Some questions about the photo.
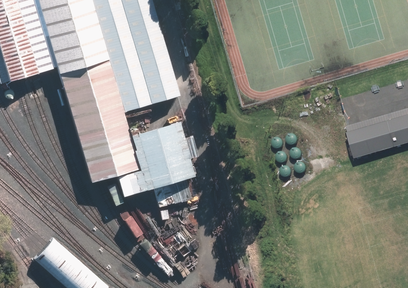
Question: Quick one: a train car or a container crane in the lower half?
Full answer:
There is a train car in the lower half.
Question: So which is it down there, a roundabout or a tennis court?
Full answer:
This aerial view contains a tennis court.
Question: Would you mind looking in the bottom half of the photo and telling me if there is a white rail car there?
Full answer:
Yes, a white rail car can be seen in the bottom half of the photo.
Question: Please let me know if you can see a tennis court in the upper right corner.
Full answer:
Yes, I can see a tennis court in the upper right corner.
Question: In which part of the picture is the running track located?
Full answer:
The running track is in the top right part of the image.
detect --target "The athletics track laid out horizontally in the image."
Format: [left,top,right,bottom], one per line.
[215,0,408,100]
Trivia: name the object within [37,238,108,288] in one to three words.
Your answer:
shed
